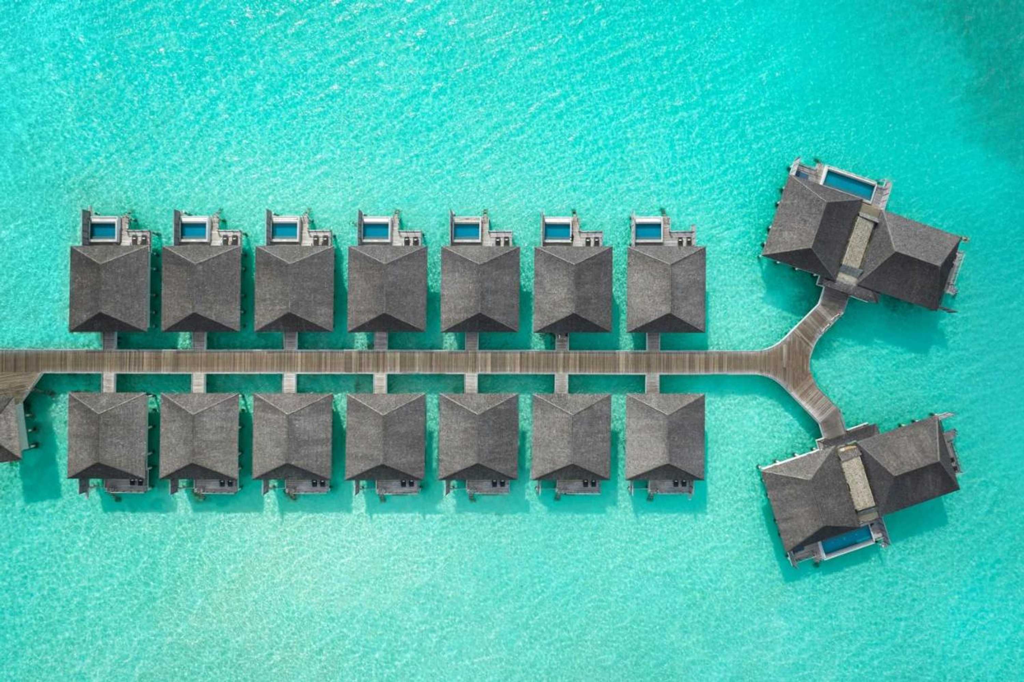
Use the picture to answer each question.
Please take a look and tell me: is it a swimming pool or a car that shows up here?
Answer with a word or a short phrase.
swimming pool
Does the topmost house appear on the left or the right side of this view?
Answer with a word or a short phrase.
right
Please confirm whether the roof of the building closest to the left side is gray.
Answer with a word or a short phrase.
Yes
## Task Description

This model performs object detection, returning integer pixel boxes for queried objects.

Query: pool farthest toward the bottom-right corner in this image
[821,525,873,556]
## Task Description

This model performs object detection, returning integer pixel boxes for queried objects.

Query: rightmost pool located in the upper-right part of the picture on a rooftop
[823,169,875,202]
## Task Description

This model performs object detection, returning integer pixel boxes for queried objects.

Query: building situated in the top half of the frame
[754,157,971,316]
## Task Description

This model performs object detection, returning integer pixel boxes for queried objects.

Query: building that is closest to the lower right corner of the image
[754,412,970,568]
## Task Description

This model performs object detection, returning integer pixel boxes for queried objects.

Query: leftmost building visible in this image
[0,397,44,462]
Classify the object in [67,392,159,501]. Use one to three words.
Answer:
house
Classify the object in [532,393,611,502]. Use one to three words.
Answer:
house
